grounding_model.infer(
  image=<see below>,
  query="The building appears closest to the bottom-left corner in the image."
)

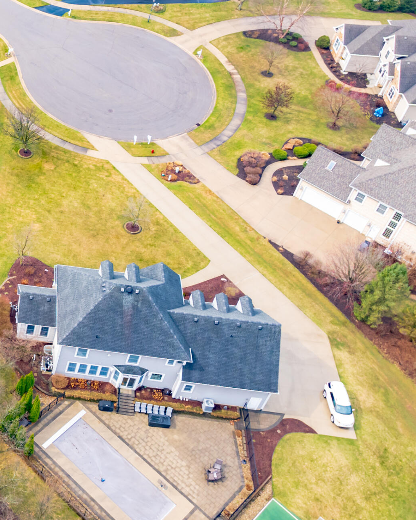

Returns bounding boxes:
[16,257,283,414]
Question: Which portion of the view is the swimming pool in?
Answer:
bottom left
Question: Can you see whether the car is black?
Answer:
No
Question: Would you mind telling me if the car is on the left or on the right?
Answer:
right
